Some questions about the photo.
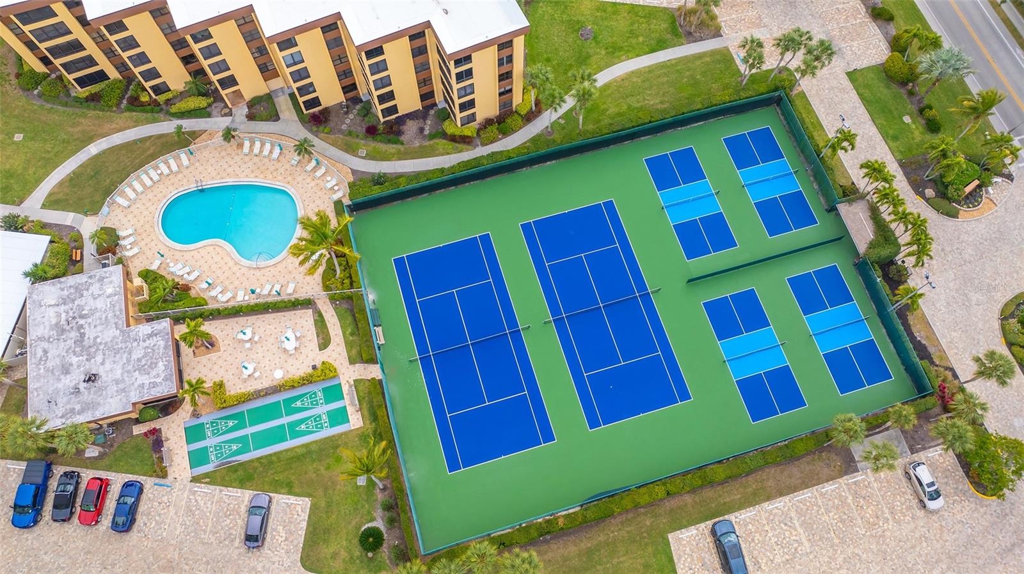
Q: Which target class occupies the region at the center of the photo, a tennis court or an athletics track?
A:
tennis court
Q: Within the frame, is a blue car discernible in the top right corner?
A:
No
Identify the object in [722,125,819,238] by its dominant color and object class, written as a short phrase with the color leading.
blue sports court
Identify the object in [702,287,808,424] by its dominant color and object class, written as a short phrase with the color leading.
blue sports court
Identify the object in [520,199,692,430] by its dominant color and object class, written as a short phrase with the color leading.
blue tennis court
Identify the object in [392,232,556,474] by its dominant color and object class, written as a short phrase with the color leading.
blue tennis court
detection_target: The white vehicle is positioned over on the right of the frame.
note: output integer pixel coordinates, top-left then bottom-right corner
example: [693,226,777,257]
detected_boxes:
[907,459,945,513]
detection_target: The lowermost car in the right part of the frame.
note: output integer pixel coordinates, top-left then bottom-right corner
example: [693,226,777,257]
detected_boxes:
[715,520,751,574]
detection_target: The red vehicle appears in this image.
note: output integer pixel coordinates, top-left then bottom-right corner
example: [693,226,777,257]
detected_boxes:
[79,477,112,527]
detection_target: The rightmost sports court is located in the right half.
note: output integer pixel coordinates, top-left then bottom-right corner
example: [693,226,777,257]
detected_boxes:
[785,263,895,396]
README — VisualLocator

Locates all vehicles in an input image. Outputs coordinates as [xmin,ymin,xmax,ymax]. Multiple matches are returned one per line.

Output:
[715,520,751,574]
[13,461,56,527]
[109,479,147,534]
[50,471,83,523]
[907,459,945,513]
[243,493,272,549]
[79,477,112,527]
